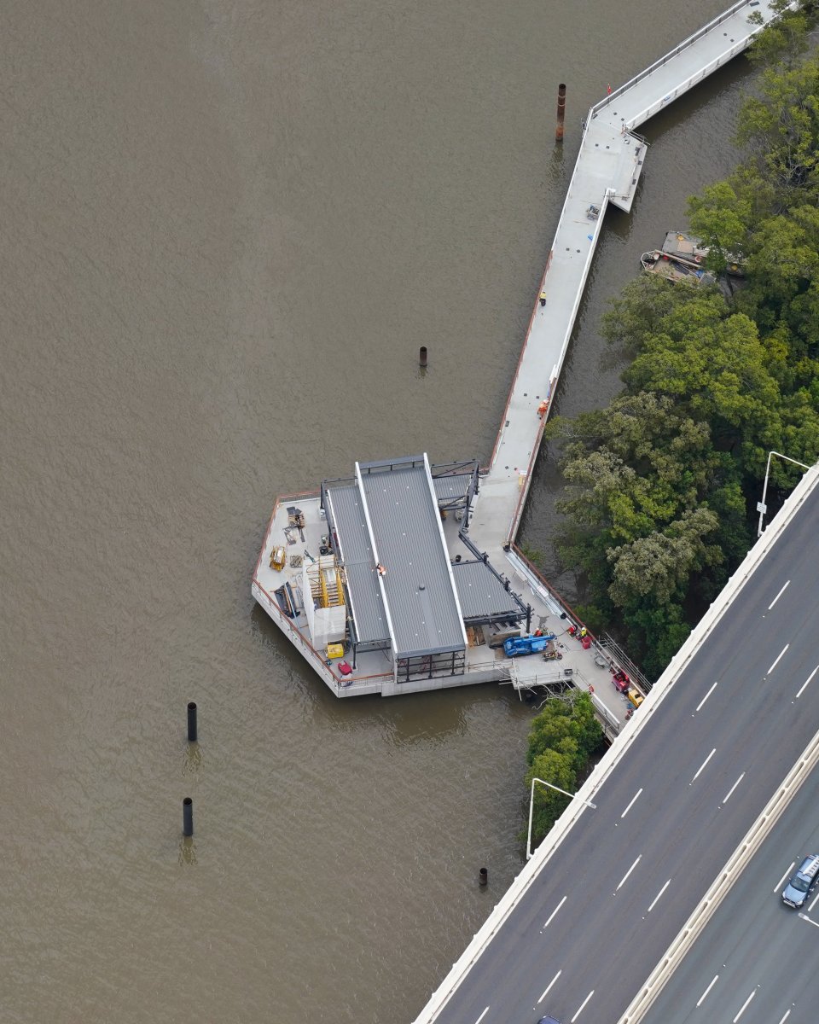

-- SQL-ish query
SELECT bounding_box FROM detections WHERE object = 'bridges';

[409,454,819,1024]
